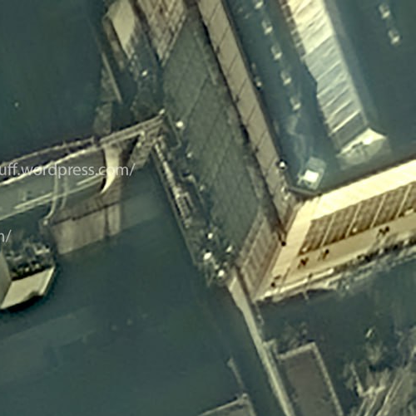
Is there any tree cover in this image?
No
